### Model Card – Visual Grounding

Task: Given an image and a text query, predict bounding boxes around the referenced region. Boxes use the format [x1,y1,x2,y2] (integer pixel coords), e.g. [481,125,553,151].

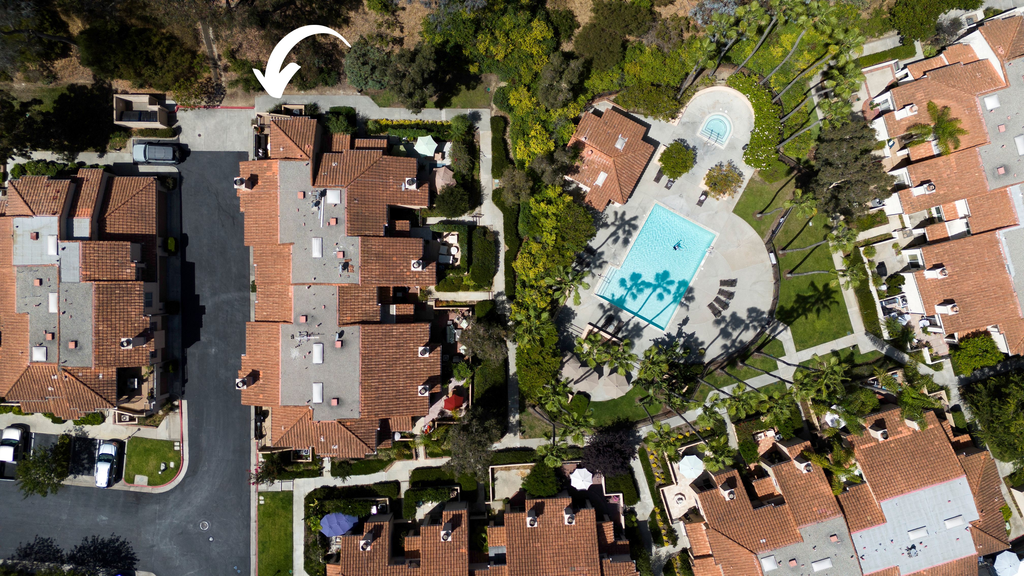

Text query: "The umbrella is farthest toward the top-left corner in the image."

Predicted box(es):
[392,144,408,157]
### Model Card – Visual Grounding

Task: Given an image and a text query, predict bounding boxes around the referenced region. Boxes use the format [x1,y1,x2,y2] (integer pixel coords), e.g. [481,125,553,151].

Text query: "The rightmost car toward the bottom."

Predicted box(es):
[92,443,118,489]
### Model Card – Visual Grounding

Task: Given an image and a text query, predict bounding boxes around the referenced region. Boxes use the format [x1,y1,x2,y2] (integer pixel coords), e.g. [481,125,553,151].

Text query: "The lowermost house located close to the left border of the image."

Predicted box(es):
[0,168,180,424]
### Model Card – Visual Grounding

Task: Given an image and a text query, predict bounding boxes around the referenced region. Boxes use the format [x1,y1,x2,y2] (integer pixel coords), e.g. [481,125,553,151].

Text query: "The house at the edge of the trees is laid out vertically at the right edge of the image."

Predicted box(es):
[869,14,1024,355]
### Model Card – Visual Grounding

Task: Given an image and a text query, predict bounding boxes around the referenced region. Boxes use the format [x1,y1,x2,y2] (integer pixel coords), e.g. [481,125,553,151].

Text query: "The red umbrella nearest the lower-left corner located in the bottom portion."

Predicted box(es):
[447,392,462,410]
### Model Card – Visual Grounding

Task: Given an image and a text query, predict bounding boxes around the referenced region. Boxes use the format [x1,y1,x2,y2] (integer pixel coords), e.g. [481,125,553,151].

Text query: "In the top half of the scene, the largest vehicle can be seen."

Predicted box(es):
[131,141,174,163]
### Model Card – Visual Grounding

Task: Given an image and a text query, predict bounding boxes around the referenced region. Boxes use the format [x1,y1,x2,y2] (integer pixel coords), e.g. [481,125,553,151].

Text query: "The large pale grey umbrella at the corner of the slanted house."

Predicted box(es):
[992,551,1020,576]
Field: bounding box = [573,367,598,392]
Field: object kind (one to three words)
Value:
umbrella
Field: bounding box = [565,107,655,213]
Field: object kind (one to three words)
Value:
building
